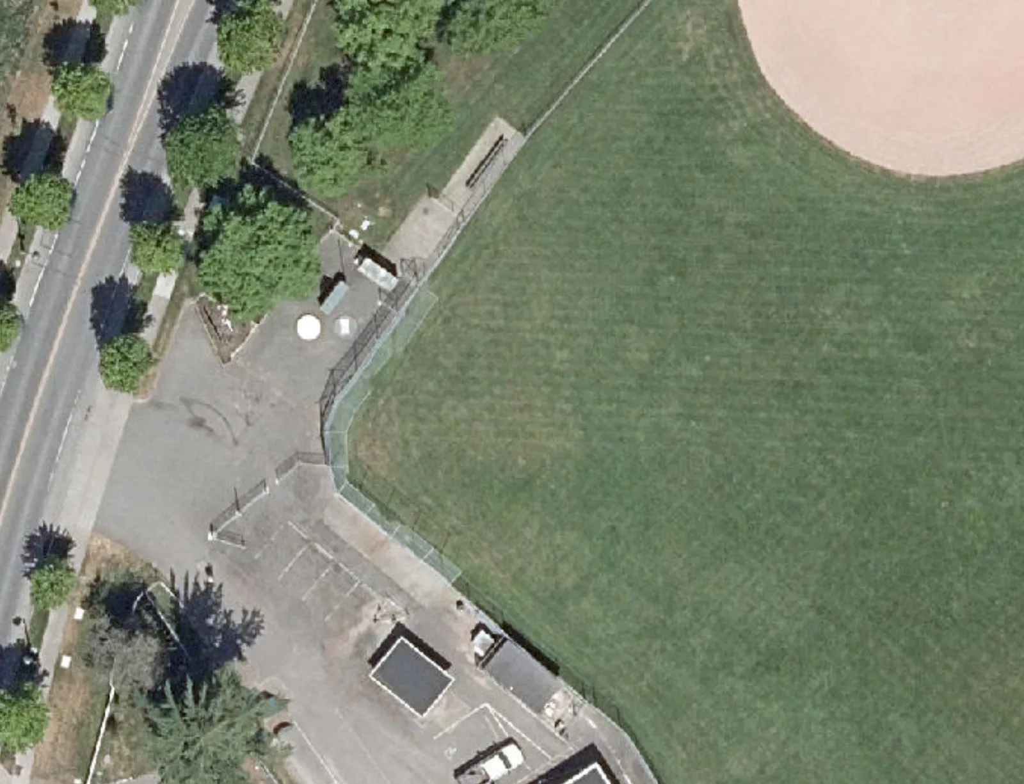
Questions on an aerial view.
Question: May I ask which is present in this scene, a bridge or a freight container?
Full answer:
The image shows a freight container.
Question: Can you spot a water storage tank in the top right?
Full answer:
No, there's no water storage tank to be seen in the top right.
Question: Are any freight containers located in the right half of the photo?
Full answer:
No, there's no freight container to be seen in the right half of the photo.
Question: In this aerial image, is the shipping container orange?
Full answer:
No, the shipping container is white.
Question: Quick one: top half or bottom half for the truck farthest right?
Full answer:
Seen from above, the truck farthest right lies in the bottom half of the view.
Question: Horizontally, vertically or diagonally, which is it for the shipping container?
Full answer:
In this picture, the shipping container is oriented diagonally.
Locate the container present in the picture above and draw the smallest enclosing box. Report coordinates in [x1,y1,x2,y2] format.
[356,258,397,291]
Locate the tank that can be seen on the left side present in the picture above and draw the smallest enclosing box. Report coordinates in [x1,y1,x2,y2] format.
[296,315,321,339]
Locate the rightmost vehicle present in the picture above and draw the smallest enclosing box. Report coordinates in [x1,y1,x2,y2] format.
[455,745,526,784]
